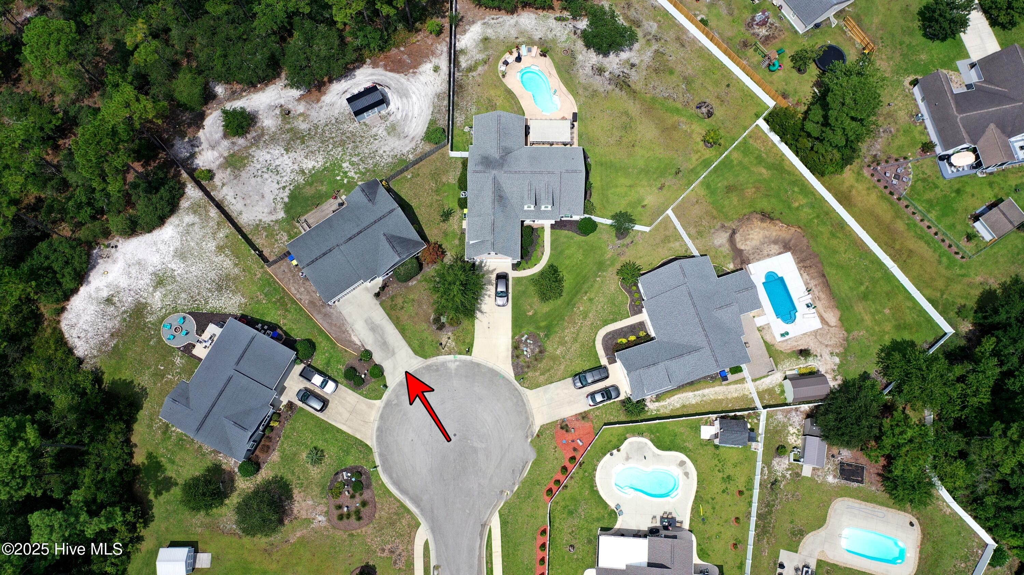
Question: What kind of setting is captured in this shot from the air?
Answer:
residential area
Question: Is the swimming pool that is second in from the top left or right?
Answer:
right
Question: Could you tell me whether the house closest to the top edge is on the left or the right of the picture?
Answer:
right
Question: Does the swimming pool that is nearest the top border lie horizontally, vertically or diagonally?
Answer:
diagonally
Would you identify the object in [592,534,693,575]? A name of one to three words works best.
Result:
house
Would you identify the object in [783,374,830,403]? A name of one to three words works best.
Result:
shed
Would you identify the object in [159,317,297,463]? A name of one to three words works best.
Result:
house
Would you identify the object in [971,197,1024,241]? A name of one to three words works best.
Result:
shed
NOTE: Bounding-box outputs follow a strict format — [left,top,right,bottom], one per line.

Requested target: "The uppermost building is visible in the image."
[777,0,862,34]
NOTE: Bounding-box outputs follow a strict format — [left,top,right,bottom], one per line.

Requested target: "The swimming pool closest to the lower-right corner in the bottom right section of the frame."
[840,527,908,566]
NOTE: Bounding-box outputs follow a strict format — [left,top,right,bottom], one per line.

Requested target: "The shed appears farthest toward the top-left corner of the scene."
[346,84,385,121]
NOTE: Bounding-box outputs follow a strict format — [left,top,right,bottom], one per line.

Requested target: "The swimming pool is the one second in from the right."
[762,270,798,324]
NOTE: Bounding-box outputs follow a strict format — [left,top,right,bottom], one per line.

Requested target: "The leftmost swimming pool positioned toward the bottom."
[612,464,682,501]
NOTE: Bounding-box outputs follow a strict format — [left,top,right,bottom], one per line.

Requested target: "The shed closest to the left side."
[156,547,194,575]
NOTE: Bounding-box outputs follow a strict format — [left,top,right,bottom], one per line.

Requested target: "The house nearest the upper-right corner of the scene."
[909,43,1024,172]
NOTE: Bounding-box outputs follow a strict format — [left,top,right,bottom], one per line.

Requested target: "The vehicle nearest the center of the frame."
[494,272,510,306]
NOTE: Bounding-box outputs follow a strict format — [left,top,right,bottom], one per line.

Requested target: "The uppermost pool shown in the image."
[517,64,560,114]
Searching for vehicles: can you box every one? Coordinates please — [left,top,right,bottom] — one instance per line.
[494,272,510,306]
[296,363,340,395]
[587,385,621,407]
[573,364,610,386]
[294,386,331,414]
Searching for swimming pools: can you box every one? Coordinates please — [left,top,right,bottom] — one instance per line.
[612,464,682,501]
[840,527,908,566]
[517,64,560,114]
[762,270,798,324]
